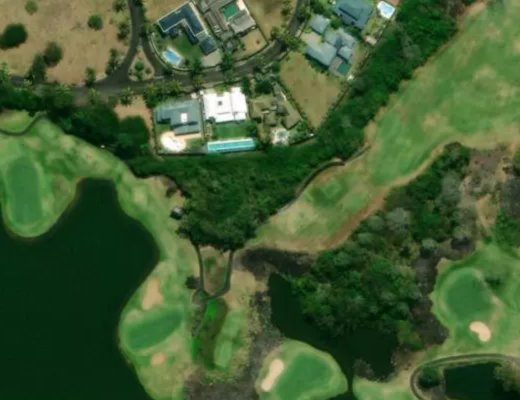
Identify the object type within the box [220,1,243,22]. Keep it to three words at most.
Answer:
swimming pool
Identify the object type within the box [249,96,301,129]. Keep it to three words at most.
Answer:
house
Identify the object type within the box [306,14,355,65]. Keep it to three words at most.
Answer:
house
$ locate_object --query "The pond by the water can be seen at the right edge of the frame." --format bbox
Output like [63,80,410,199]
[444,363,520,400]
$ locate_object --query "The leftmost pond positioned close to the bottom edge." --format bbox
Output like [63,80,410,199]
[266,273,397,400]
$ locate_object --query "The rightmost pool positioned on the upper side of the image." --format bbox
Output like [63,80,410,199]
[378,1,396,19]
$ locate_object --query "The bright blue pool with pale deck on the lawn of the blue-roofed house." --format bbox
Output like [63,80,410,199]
[162,48,184,66]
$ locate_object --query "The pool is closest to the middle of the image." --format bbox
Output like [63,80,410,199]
[207,138,254,153]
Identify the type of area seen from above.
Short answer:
golf course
